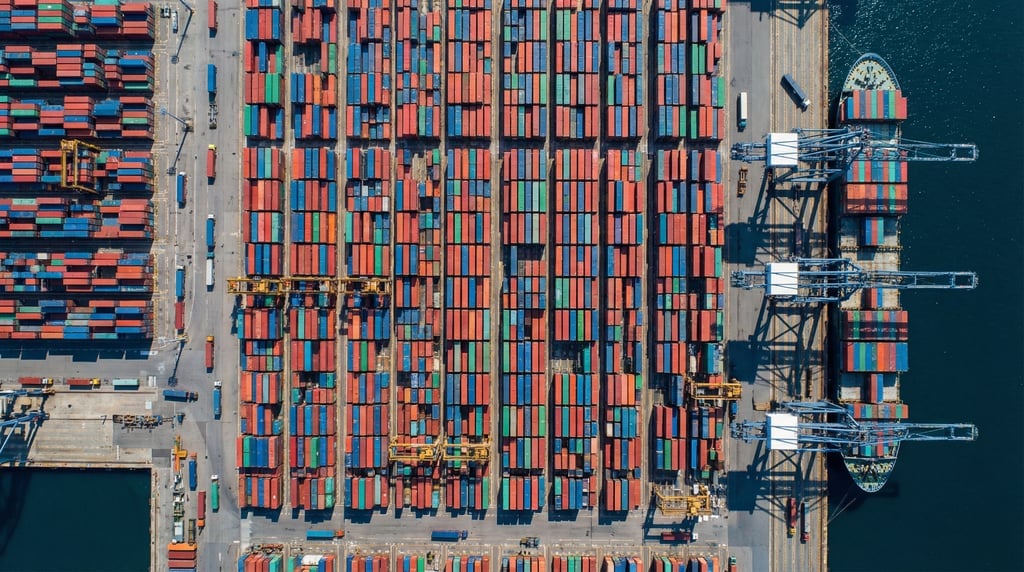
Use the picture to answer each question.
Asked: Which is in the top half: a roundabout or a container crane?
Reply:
container crane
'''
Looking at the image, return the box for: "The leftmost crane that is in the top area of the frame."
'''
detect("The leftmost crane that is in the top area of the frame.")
[61,140,101,193]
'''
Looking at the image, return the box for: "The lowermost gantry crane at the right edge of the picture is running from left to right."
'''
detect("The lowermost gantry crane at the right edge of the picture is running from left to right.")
[730,391,977,453]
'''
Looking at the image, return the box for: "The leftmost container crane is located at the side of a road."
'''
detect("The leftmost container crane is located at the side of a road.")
[0,388,52,434]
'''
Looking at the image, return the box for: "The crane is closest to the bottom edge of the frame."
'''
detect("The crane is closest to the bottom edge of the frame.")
[655,483,712,513]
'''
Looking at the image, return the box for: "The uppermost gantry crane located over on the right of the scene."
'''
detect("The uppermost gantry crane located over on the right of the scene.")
[730,131,977,191]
